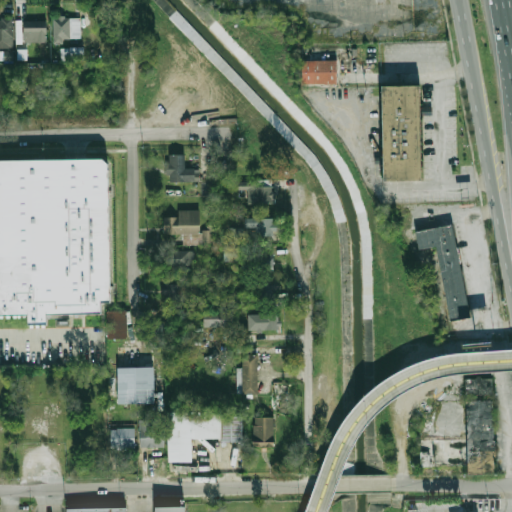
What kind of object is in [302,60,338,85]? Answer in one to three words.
building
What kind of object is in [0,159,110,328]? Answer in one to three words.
building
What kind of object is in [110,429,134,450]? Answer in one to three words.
shed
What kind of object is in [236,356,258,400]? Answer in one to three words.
house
